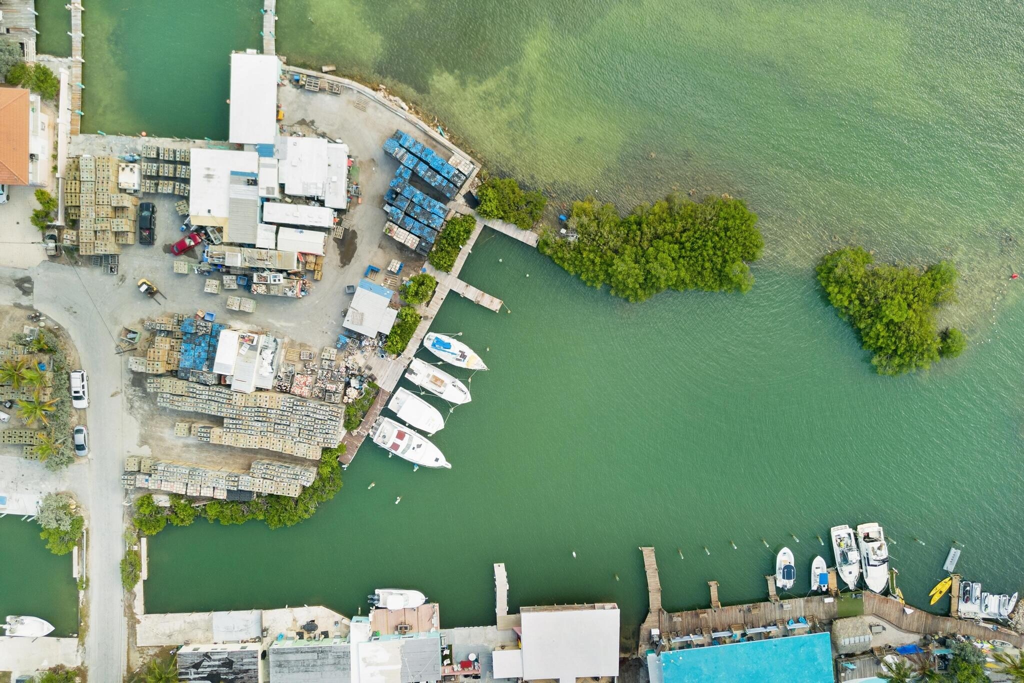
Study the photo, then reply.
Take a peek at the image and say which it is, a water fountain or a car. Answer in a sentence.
Of the two, only a car appears.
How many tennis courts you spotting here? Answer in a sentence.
No tennis courts are visible.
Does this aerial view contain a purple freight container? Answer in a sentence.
No, the photo shows no purple freight container.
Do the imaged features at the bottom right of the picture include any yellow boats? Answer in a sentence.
Yes, a yellow boat is visible at the bottom right of the picture.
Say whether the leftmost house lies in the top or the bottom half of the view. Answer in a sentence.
It is in the top half that the leftmost house appears.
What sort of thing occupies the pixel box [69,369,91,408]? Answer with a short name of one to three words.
car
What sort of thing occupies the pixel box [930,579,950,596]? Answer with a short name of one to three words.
boat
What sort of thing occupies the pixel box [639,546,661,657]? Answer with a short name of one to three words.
pier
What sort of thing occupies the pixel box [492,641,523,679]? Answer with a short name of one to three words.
building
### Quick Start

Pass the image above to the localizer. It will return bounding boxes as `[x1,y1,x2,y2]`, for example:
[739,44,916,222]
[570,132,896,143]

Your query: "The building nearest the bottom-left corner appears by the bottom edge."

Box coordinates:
[177,642,266,683]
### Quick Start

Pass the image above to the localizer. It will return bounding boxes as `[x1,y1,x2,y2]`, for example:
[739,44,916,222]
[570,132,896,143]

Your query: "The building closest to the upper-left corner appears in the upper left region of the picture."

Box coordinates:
[0,86,44,187]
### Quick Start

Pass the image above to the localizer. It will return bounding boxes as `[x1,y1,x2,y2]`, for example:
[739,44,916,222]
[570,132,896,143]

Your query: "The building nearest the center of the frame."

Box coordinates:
[343,279,399,338]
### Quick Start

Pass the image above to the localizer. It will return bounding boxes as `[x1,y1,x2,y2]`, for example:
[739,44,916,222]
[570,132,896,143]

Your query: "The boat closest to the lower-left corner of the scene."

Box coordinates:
[1,615,60,636]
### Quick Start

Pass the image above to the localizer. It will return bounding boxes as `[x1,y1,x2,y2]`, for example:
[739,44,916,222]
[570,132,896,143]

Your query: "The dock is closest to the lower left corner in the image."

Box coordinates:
[341,389,390,465]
